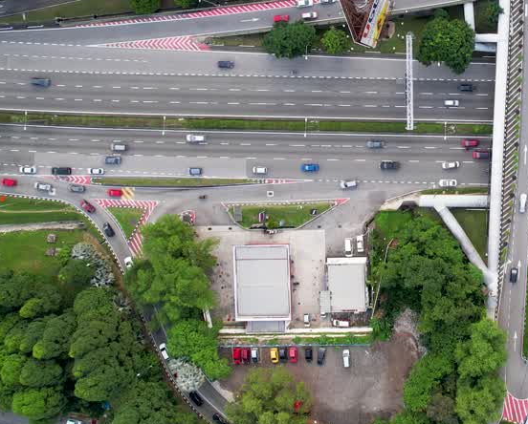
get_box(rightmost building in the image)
[320,254,369,313]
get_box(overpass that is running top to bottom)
[496,0,528,358]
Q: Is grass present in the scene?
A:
Yes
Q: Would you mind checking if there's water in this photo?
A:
No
